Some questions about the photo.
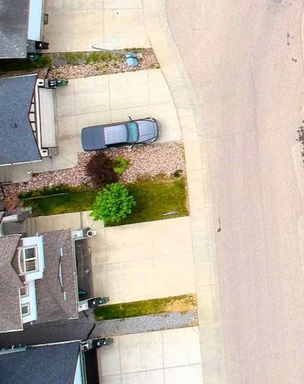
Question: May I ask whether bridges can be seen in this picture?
No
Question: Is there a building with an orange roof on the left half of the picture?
No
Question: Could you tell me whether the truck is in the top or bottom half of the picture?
top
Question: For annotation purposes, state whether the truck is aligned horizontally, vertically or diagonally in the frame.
horizontally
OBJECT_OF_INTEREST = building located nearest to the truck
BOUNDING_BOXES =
[0,72,59,172]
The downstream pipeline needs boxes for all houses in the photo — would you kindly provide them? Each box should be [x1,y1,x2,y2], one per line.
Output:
[0,0,49,61]
[0,228,94,334]
[0,339,102,384]
[0,72,59,172]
